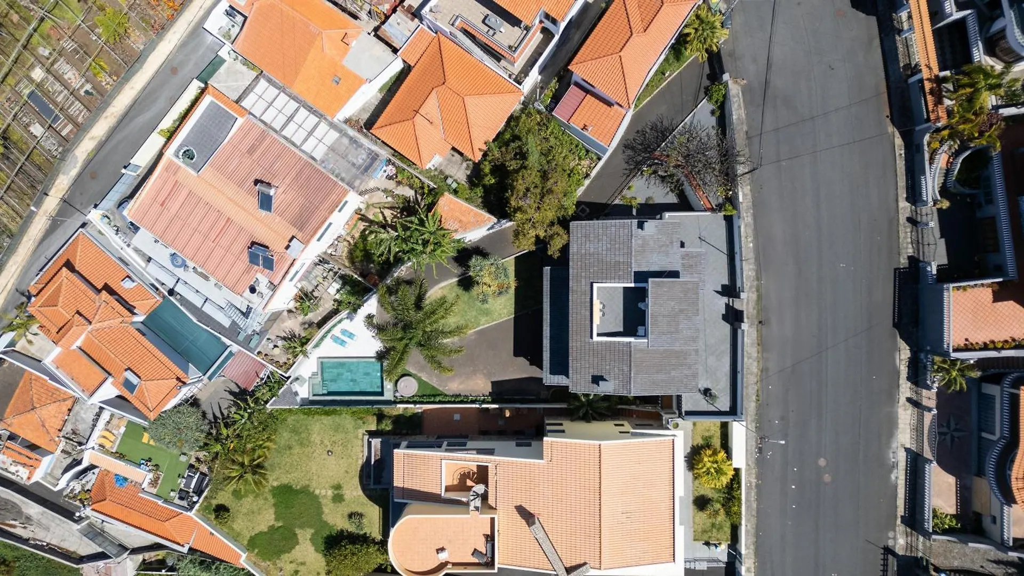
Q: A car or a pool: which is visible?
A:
pool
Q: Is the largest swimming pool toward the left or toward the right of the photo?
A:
left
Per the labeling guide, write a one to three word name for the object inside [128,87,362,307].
house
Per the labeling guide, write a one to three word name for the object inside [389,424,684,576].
house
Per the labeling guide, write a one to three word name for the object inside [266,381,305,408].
shed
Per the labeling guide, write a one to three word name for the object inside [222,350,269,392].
shed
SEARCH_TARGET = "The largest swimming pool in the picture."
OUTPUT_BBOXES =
[286,294,397,404]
